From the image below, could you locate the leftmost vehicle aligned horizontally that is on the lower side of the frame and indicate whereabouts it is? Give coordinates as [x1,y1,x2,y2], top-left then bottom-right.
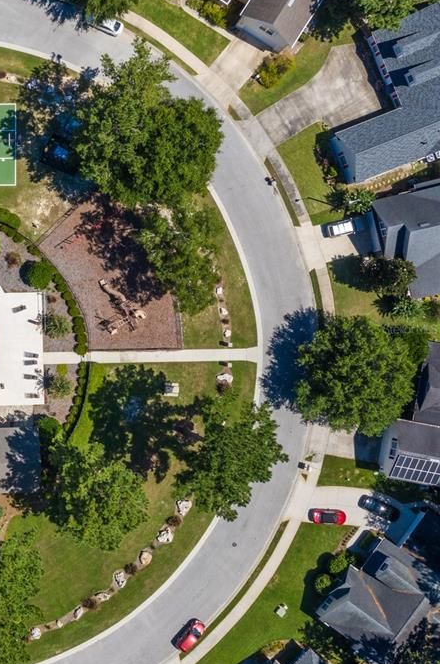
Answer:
[311,507,347,526]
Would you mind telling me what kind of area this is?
residential area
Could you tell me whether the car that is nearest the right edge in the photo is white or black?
black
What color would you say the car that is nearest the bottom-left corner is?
red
